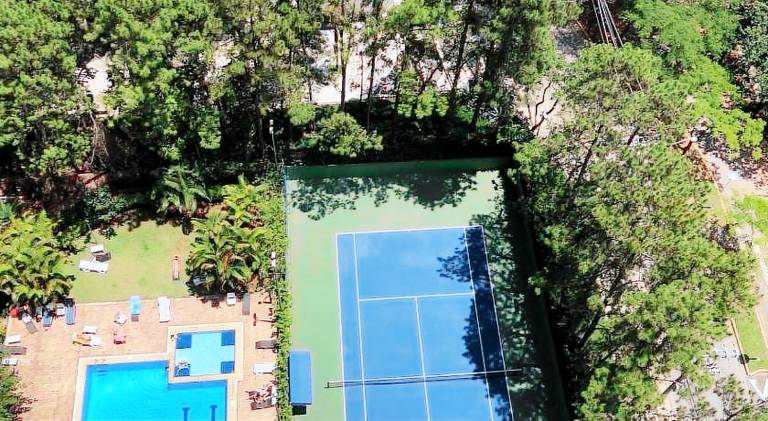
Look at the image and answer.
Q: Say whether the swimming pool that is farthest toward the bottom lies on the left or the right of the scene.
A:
left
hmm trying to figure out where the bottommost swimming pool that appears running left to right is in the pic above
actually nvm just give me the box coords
[70,354,238,421]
